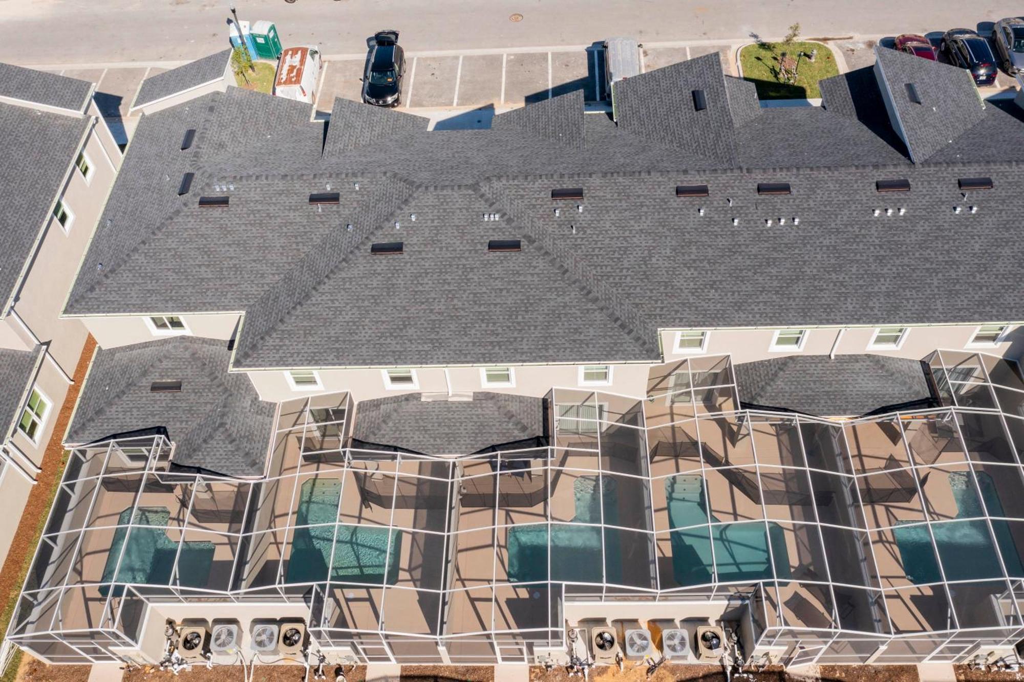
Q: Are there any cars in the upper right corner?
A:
Yes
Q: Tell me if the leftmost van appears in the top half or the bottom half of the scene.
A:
top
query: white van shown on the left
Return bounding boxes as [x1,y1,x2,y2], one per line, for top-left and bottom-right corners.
[274,46,324,106]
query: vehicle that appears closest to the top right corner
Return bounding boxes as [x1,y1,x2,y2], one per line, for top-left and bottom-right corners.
[992,19,1024,74]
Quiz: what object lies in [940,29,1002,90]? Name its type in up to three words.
car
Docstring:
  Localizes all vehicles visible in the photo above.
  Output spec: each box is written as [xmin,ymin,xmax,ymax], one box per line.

[361,26,406,109]
[602,43,644,111]
[992,19,1024,74]
[896,37,949,66]
[940,29,1002,90]
[274,46,324,106]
